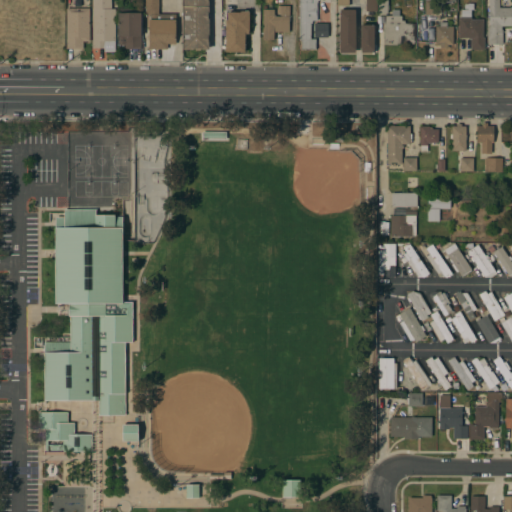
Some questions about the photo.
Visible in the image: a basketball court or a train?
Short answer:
basketball court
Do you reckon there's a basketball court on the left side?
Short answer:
Yes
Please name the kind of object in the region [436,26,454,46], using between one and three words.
house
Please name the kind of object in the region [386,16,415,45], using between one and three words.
building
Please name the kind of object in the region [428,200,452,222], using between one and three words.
barn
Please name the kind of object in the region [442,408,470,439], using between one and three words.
house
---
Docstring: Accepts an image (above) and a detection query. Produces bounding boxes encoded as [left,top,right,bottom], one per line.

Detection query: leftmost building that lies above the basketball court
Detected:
[67,8,91,50]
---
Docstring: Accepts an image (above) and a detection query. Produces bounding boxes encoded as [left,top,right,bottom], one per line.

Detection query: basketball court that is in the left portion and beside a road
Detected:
[69,132,132,206]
